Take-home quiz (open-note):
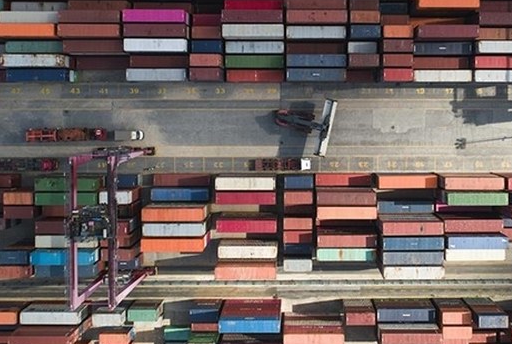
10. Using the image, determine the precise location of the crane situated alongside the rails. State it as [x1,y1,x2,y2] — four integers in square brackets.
[60,147,164,308]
